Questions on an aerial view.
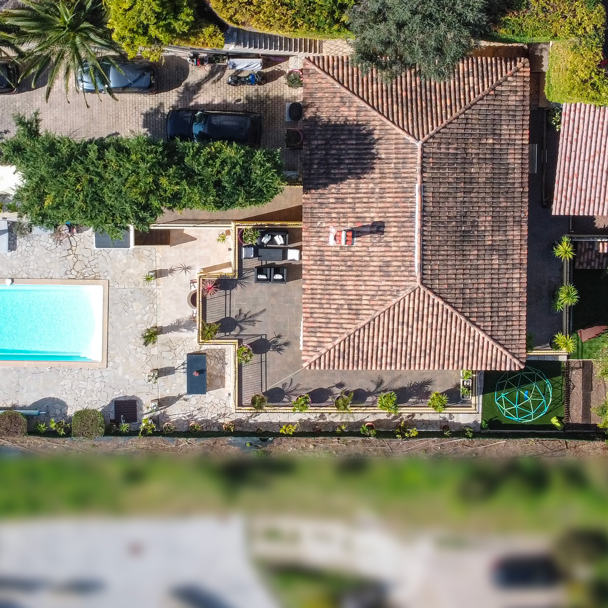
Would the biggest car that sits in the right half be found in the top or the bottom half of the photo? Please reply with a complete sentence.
The bottom half of the photo is where the biggest car that sits in the right half is.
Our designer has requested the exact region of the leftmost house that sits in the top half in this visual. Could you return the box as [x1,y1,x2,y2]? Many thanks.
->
[301,55,532,372]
